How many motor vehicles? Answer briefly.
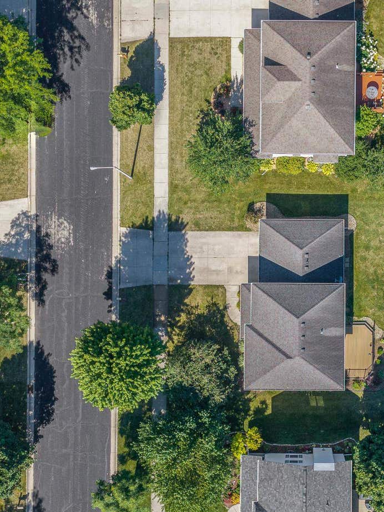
0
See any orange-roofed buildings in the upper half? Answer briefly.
No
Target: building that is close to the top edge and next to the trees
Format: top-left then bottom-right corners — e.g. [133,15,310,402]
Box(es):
[242,0,356,175]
